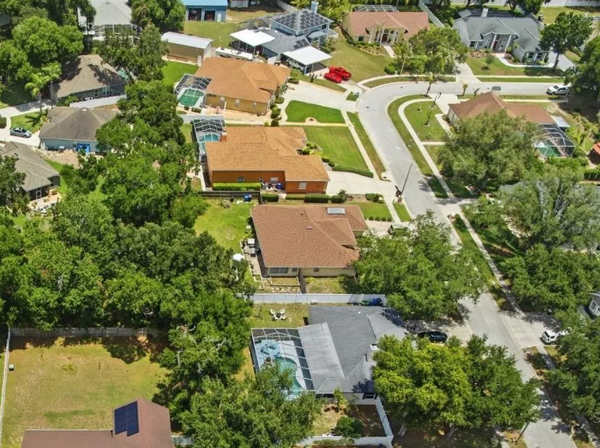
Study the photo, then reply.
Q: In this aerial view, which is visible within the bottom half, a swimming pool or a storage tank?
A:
swimming pool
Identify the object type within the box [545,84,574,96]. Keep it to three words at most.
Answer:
vehicle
